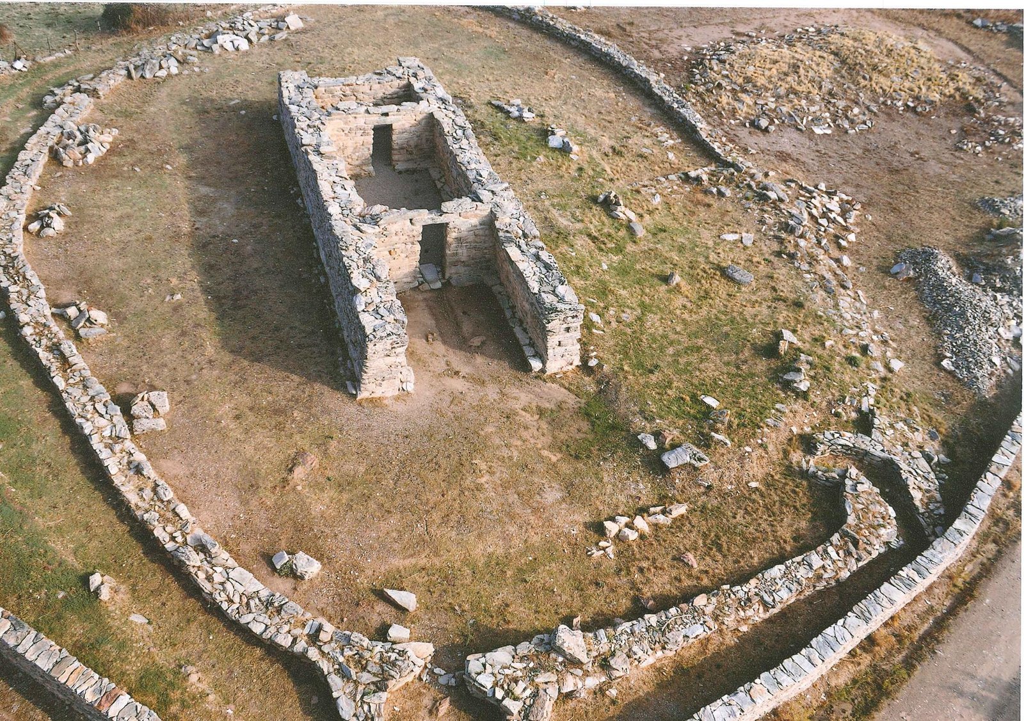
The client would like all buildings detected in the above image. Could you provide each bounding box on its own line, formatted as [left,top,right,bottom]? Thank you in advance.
[276,54,587,400]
